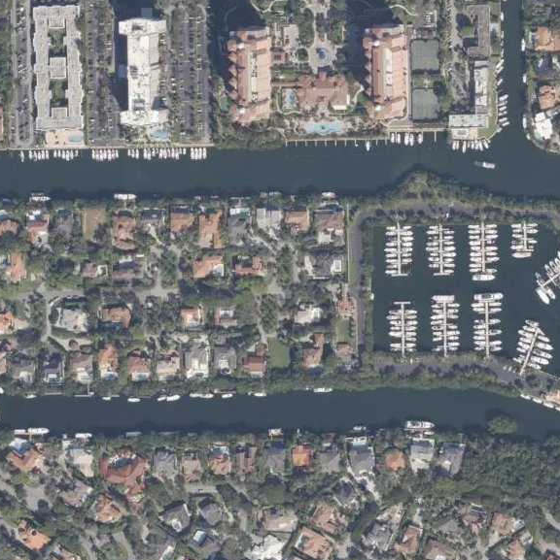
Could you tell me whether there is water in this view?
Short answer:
Yes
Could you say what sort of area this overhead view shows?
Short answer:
residential area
